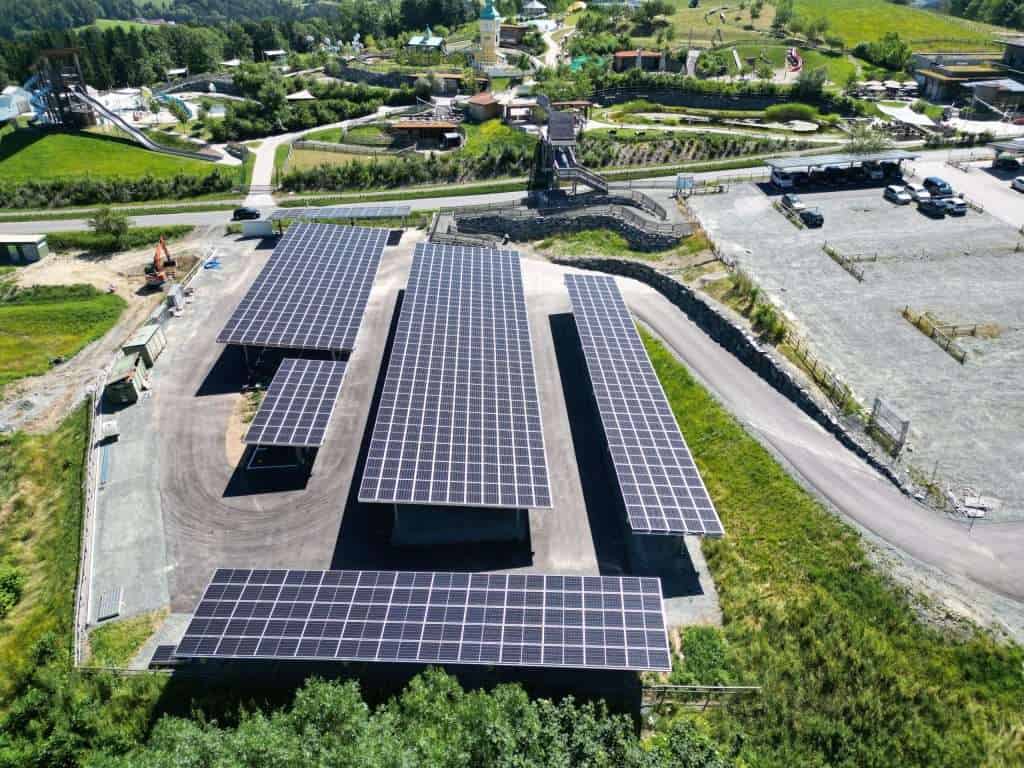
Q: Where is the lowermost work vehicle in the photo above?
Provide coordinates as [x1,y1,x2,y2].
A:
[137,238,179,286]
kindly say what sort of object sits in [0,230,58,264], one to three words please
building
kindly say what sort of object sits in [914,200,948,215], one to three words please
car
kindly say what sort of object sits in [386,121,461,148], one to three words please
barn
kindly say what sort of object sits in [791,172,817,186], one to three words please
car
